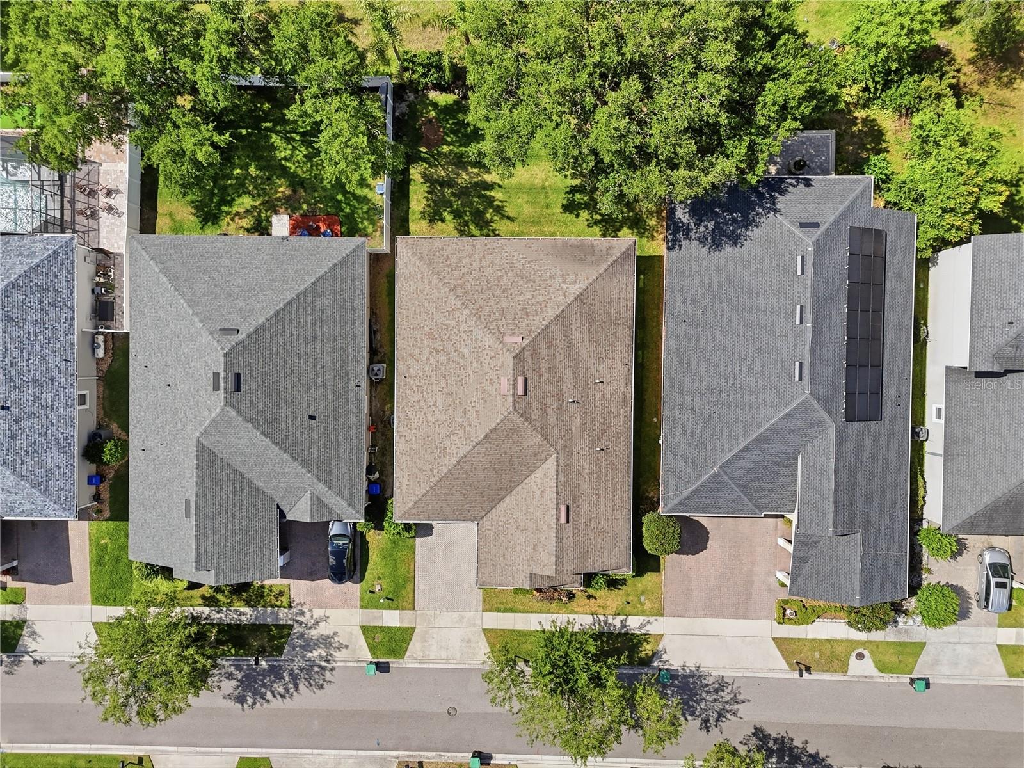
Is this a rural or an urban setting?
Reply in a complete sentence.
From above, the setting appears urban.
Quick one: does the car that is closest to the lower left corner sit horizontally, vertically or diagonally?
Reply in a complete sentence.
I'd say the car that is closest to the lower left corner is aligned vertically in the picture.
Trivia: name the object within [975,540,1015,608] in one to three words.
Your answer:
car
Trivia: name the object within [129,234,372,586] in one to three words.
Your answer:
house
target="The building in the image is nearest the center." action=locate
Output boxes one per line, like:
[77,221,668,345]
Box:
[393,236,638,591]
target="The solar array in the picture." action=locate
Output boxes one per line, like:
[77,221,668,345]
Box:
[843,226,887,420]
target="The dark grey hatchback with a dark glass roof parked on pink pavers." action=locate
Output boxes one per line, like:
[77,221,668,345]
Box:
[325,521,357,584]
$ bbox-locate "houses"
[0,232,101,574]
[659,175,918,607]
[922,232,1024,536]
[129,234,372,586]
[393,236,638,591]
